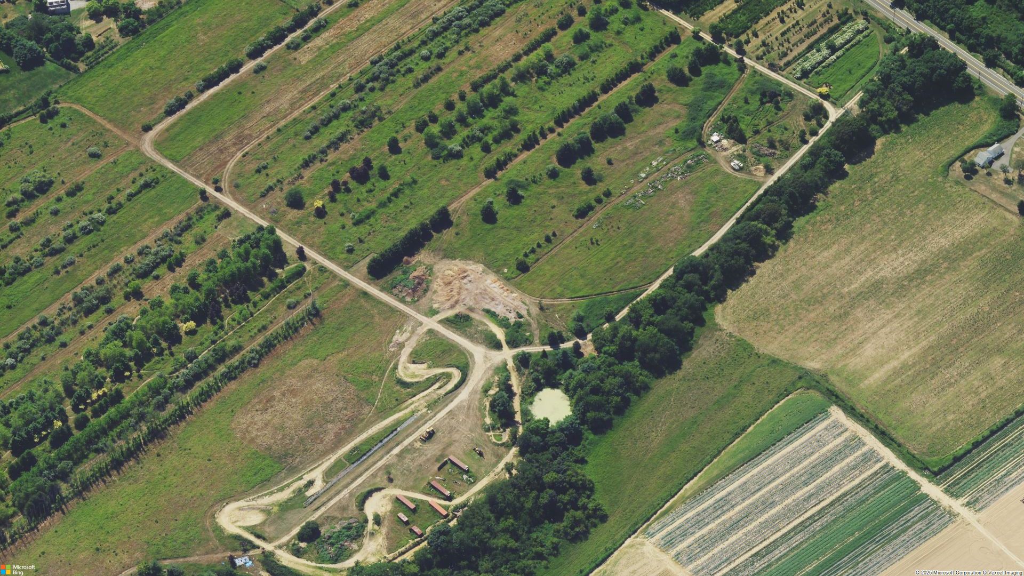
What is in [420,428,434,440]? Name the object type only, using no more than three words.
vehicle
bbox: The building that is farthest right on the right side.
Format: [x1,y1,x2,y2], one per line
[976,144,1007,170]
